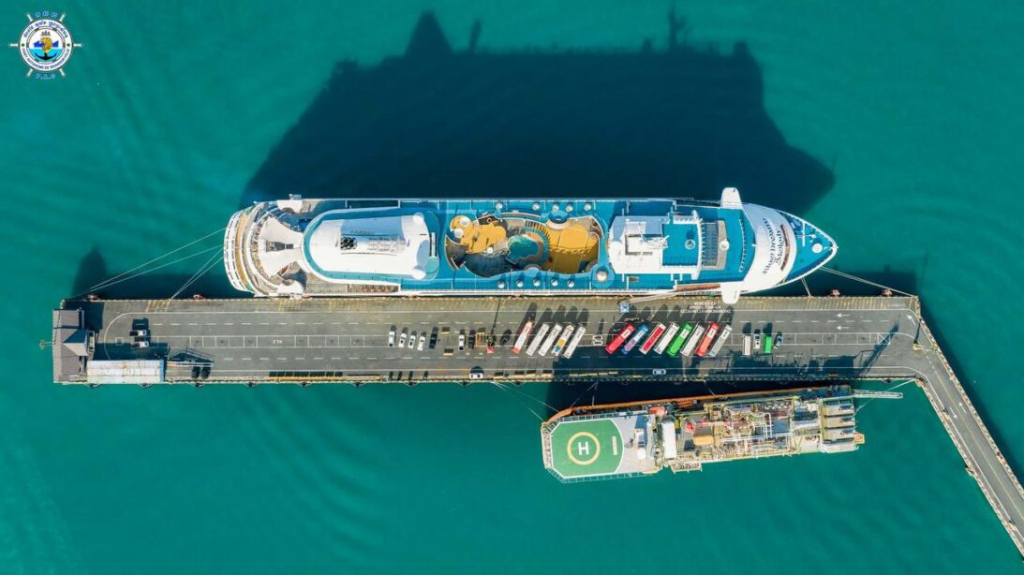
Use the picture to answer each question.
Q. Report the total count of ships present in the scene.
2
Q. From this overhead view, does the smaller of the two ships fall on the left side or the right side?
right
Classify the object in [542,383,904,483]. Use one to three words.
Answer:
ship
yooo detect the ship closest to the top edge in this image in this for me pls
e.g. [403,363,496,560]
[225,190,844,303]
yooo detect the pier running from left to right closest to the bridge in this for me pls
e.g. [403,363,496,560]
[53,291,943,390]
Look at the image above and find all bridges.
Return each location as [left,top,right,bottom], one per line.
[915,356,1024,559]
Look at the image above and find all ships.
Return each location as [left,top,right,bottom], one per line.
[542,383,904,483]
[225,190,844,303]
